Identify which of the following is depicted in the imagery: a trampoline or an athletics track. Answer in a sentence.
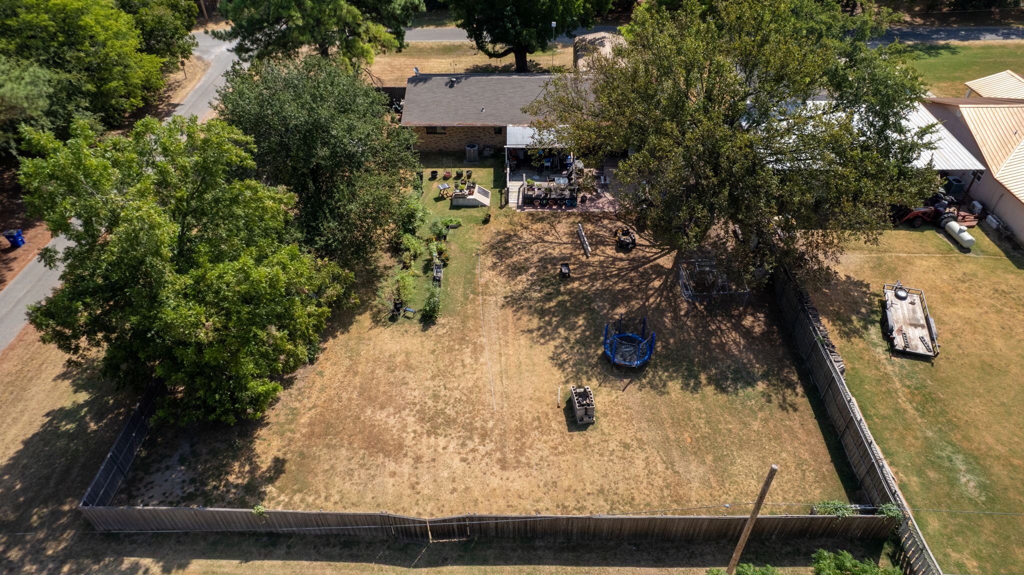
I can see a trampoline in this picture.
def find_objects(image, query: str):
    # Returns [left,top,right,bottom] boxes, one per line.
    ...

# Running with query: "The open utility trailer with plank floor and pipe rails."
[881,282,942,355]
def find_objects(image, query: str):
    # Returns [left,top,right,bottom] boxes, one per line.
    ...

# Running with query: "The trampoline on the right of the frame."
[602,311,662,377]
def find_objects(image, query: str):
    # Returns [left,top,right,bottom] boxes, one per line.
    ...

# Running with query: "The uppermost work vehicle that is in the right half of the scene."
[889,197,958,226]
